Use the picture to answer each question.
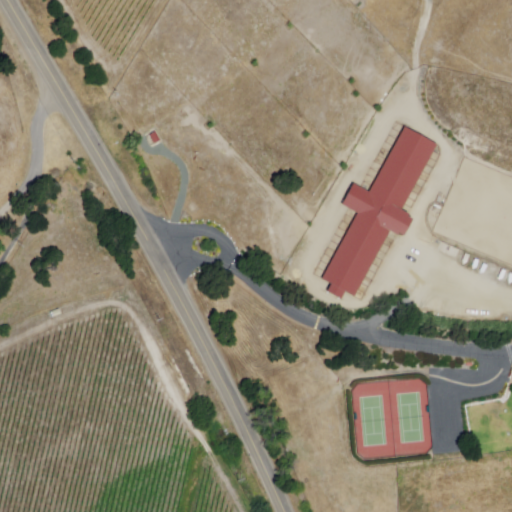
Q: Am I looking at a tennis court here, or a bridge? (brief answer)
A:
tennis court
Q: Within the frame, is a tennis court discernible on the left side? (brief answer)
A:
No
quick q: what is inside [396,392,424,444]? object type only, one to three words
tennis court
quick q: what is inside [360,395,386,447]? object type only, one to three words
tennis court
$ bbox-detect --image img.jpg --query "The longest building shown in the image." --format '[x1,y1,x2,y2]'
[323,125,436,298]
